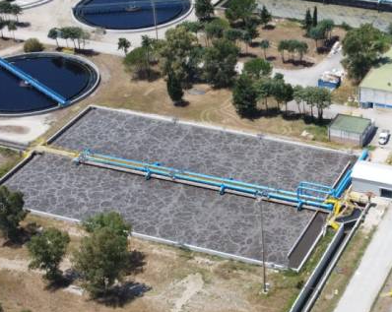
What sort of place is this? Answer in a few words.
industrial area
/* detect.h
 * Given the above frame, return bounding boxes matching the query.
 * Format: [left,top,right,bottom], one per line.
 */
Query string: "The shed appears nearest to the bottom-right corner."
[349,159,392,198]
